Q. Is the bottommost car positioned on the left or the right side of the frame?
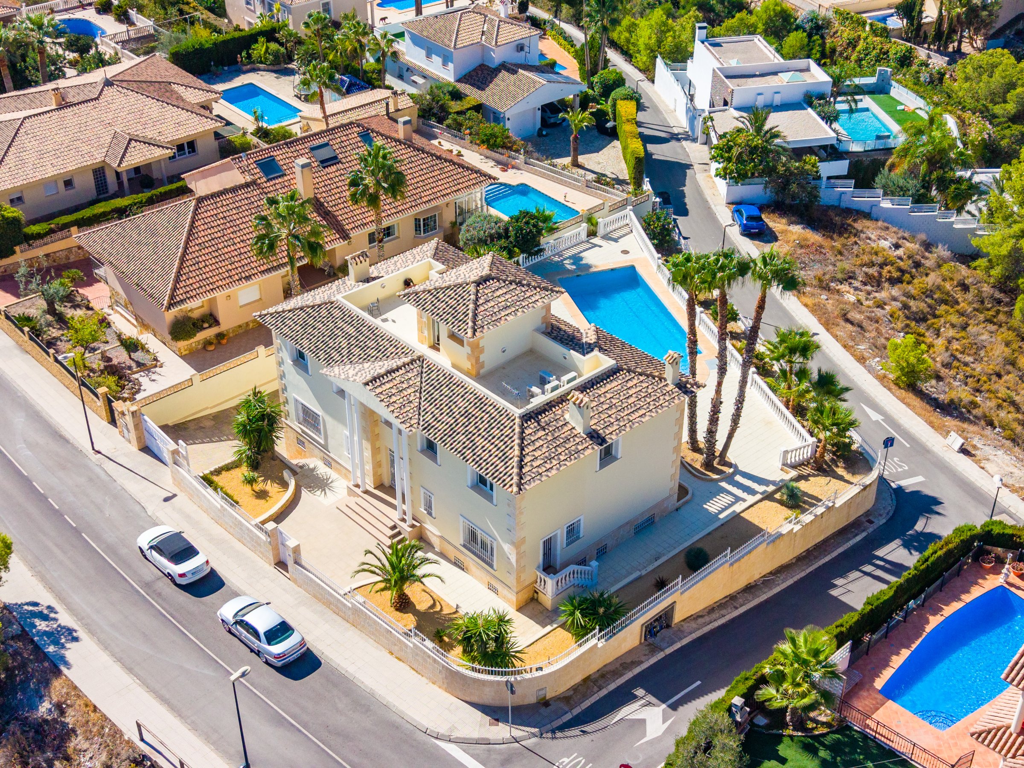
left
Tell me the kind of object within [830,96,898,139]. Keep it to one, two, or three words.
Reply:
swimming pool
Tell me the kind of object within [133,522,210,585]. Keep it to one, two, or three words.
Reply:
car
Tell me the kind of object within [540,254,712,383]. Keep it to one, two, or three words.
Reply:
swimming pool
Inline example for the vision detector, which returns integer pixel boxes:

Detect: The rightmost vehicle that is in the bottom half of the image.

[215,592,303,665]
